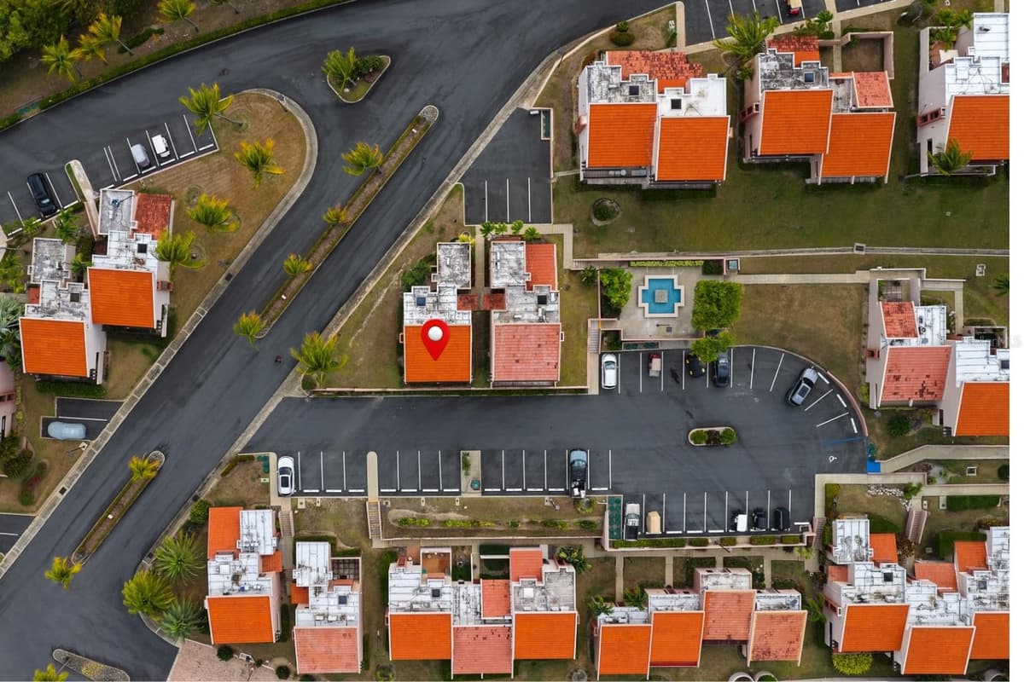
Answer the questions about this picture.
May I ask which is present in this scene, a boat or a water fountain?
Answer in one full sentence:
There is a water fountain in the scene.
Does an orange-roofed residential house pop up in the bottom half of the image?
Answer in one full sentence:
Yes, there is an orange-roofed residential house in the bottom half of the image.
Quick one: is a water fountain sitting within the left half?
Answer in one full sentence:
No, there's no water fountain to be seen within the left half.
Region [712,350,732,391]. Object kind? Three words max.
car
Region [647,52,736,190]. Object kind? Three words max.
house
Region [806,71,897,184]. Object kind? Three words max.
house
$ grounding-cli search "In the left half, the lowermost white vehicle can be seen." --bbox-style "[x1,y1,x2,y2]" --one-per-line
[277,456,295,495]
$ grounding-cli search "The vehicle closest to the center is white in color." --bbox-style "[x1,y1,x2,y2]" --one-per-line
[600,354,618,390]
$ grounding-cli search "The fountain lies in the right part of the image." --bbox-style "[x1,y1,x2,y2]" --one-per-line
[637,275,684,317]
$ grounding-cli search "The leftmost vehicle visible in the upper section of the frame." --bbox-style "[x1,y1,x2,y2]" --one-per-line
[27,175,57,217]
